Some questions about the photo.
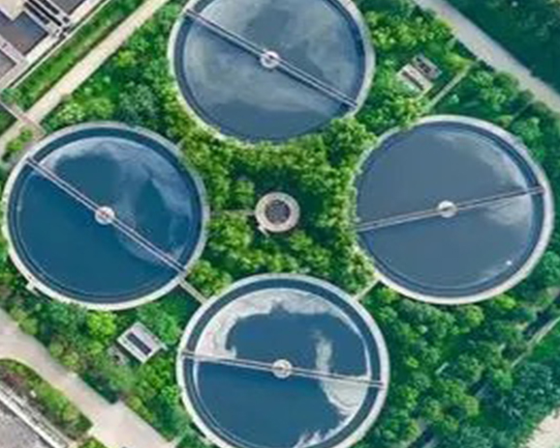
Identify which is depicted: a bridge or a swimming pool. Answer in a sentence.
The image shows a bridge.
